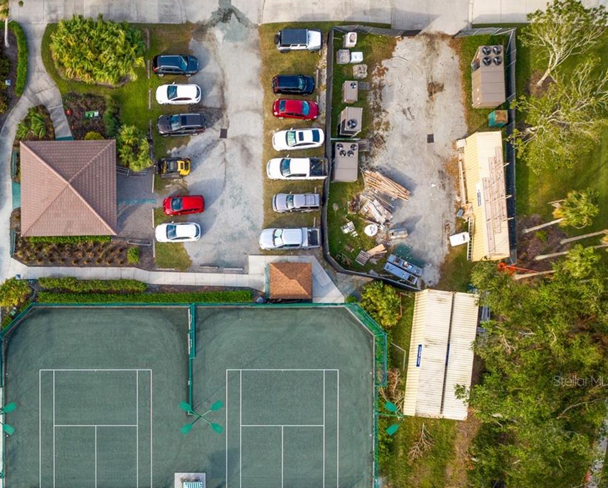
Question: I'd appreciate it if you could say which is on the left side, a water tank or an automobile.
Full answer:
There is an automobile on the left side.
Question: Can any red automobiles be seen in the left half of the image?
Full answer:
Yes, I can see a red automobile in the left half of the image.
